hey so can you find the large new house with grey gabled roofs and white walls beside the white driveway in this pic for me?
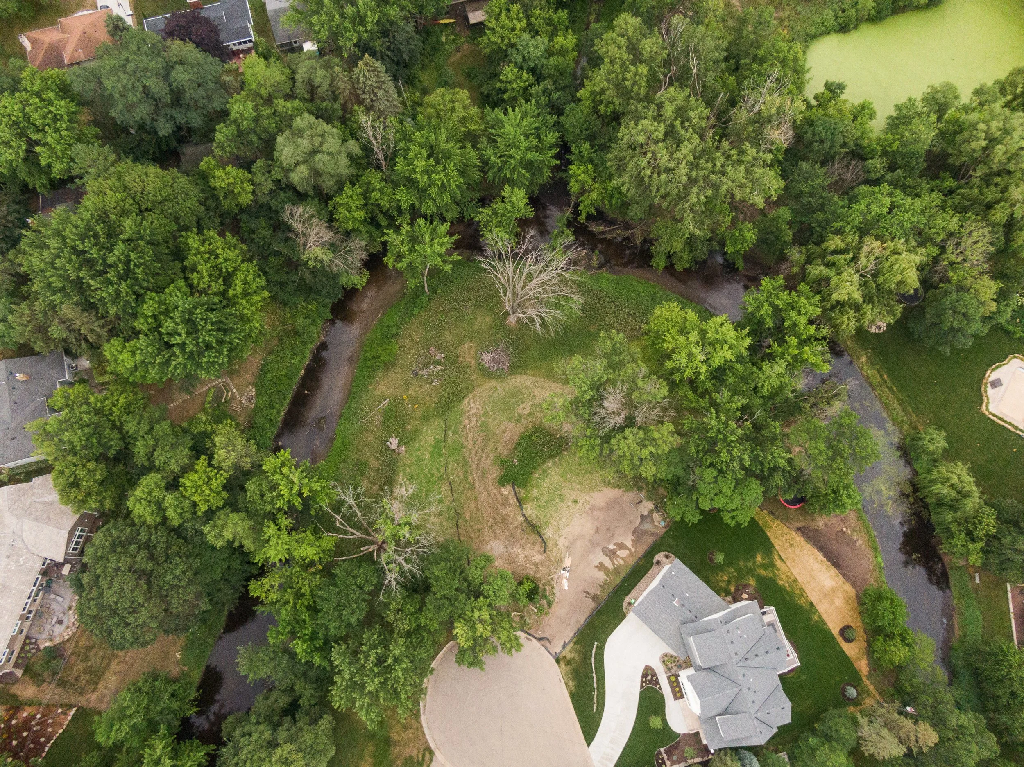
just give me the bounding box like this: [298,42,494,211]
[632,558,801,760]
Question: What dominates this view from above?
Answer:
trees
